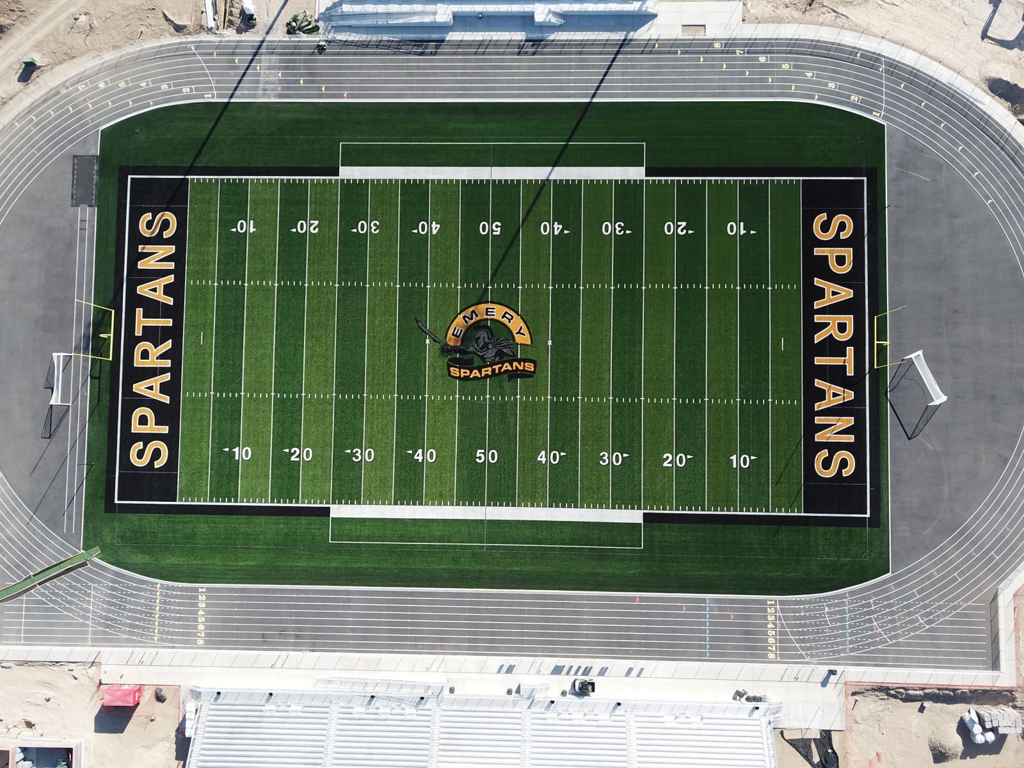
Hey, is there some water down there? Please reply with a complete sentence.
No, no water is visible.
